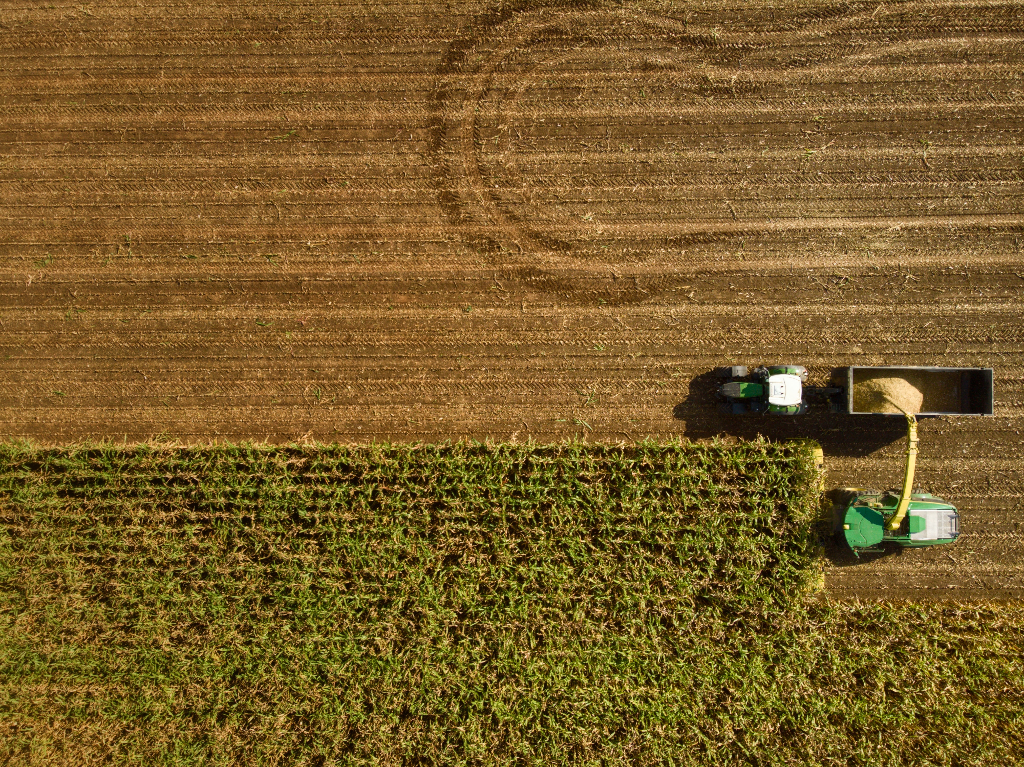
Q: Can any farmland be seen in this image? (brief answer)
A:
Yes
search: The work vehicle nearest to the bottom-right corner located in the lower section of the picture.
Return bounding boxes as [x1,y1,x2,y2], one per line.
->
[777,412,960,598]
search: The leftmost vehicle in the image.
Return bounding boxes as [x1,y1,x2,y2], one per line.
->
[705,365,807,416]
